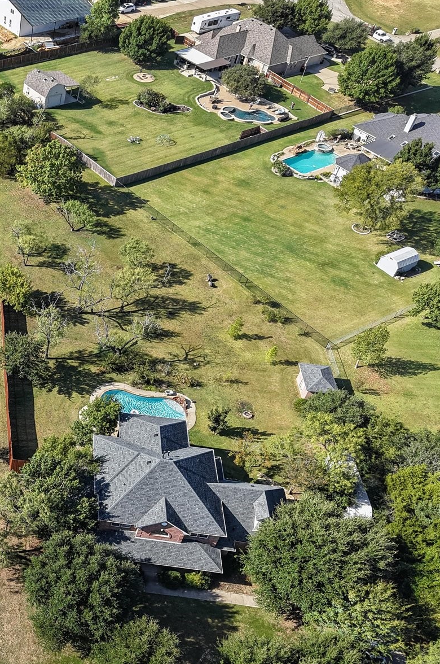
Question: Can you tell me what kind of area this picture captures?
residential area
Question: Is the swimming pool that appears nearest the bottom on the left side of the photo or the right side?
left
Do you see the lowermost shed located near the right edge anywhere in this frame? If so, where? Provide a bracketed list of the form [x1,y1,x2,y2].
[377,243,421,277]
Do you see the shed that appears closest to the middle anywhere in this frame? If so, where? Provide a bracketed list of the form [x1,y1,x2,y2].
[294,364,335,407]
